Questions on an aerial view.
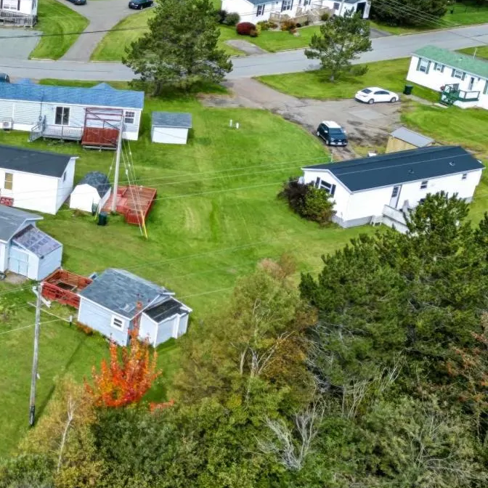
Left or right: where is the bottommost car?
right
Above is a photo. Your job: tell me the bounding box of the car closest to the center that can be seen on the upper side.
[318,112,347,143]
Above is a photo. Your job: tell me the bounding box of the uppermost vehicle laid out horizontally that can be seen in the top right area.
[354,86,403,104]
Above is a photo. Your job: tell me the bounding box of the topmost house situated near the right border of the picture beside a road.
[406,41,488,107]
